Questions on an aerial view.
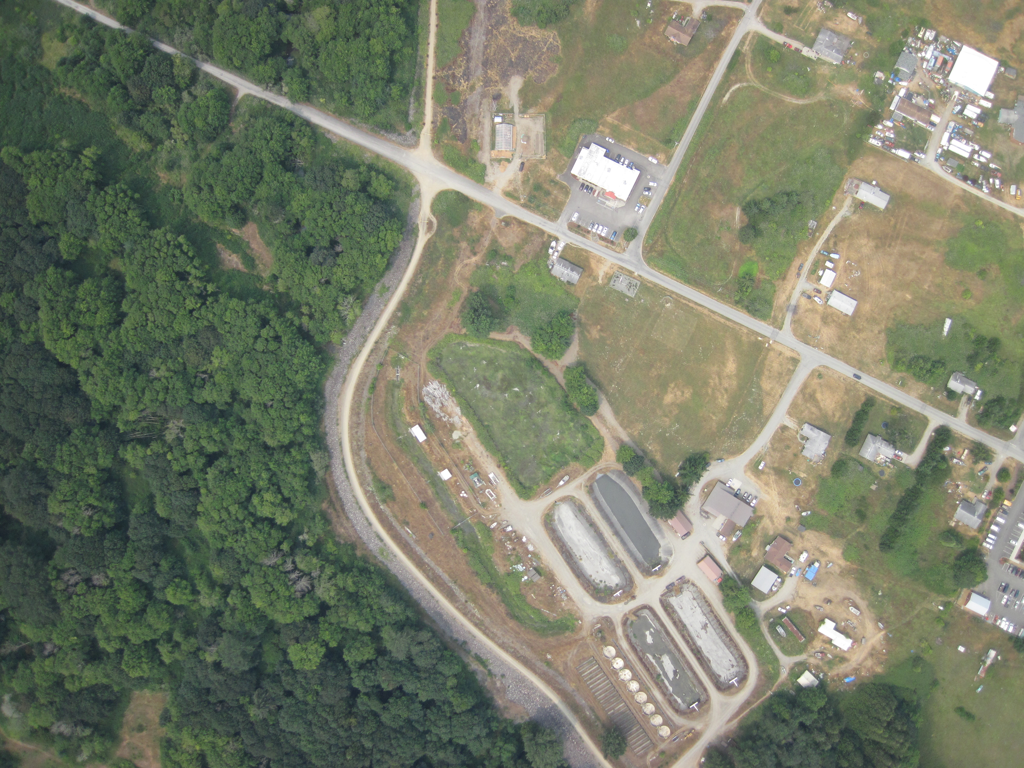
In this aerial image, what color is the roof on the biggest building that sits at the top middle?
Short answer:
white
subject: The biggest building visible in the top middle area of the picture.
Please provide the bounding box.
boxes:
[571,143,640,204]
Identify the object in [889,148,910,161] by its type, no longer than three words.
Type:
vehicle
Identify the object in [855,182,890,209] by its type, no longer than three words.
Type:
house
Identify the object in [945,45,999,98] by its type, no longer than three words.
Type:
building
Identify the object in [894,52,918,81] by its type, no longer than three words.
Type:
shed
